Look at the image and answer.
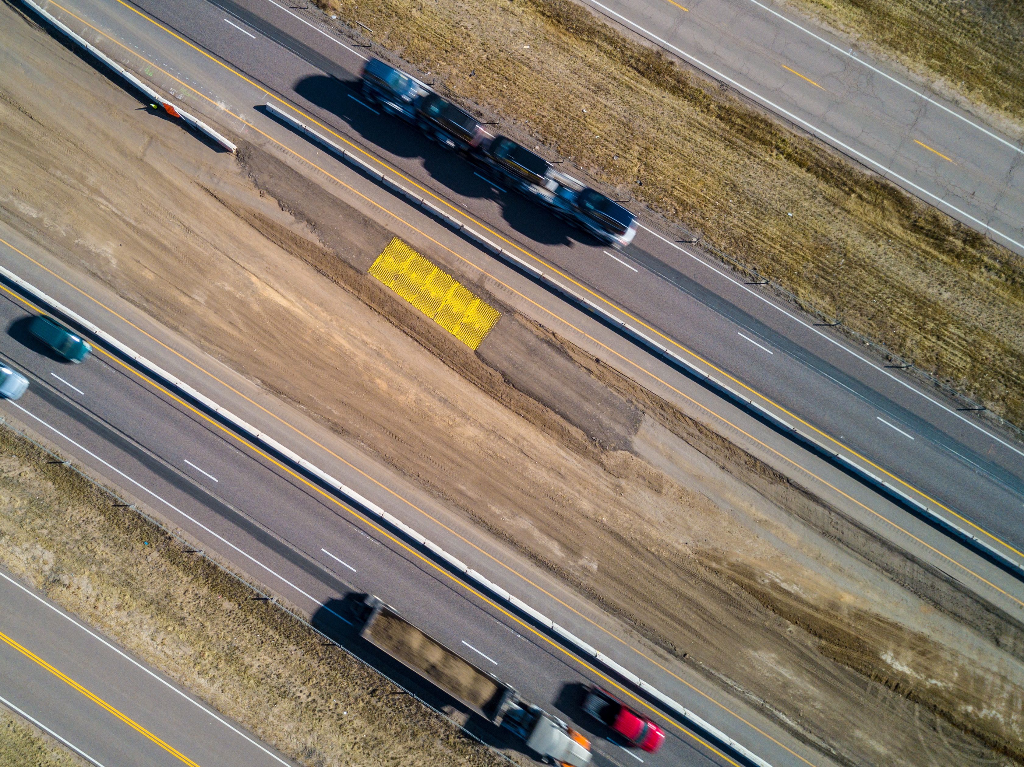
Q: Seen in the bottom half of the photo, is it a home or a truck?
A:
truck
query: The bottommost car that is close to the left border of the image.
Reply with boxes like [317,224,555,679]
[0,358,34,401]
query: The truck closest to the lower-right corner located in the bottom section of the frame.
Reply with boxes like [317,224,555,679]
[576,681,665,753]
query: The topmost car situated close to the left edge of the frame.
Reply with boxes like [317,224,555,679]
[26,314,96,367]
